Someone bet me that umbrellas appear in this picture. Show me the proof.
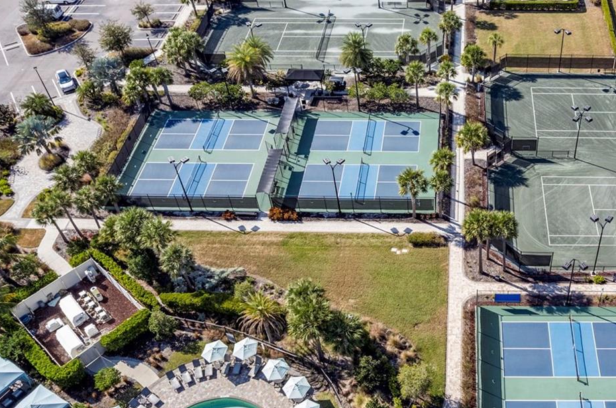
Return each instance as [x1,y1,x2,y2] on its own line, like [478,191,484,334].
[201,340,230,367]
[261,357,290,386]
[293,399,322,408]
[231,337,261,366]
[281,375,313,404]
